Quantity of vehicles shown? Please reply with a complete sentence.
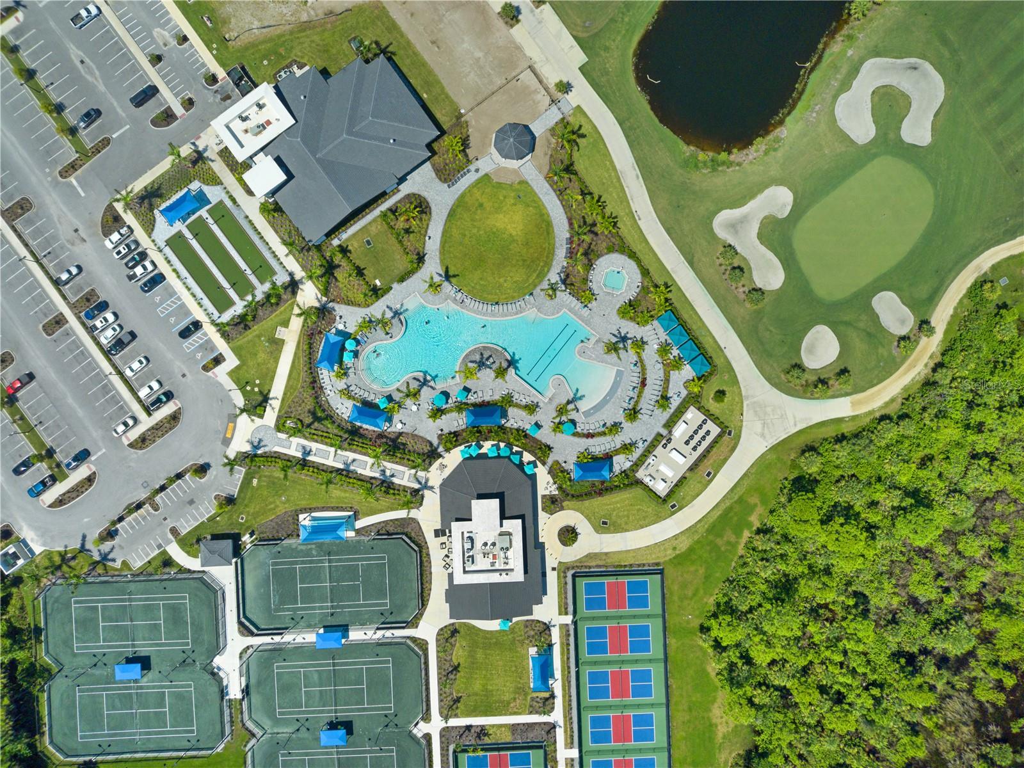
The number of vehicles here is 22.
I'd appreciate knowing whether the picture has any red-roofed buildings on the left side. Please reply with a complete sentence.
No, no red-roofed building appears on the left side.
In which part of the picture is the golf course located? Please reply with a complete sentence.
The golf course sits in the top right section of the image.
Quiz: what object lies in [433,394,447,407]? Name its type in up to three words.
umbrella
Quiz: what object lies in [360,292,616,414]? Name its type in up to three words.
swimming pool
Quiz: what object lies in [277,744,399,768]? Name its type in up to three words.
tennis court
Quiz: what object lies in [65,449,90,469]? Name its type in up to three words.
car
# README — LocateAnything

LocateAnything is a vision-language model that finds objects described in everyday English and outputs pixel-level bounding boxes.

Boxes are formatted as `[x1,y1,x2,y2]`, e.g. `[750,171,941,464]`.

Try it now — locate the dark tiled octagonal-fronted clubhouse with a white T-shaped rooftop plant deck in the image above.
[439,458,542,620]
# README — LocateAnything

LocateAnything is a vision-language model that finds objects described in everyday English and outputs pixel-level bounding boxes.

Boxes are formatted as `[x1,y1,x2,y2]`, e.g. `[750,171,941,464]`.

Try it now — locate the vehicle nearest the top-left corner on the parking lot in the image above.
[71,4,100,29]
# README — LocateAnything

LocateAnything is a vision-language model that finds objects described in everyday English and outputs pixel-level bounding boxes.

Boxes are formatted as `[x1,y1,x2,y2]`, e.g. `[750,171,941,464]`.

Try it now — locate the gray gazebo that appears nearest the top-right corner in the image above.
[493,121,534,164]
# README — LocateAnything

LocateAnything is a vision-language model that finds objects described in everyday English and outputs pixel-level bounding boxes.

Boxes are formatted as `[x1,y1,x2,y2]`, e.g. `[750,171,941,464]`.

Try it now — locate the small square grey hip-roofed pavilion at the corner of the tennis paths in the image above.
[200,539,236,567]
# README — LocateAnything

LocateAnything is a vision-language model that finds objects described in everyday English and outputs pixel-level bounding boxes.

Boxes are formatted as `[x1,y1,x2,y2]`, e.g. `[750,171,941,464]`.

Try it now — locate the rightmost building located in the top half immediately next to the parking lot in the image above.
[210,53,440,245]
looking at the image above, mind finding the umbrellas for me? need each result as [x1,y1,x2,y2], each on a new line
[510,452,521,463]
[499,446,511,458]
[487,446,498,457]
[523,463,536,475]
[456,389,469,401]
[458,447,471,460]
[499,619,510,630]
[433,394,447,407]
[562,422,576,435]
[377,395,390,410]
[526,422,542,438]
[343,352,353,362]
[345,339,356,350]
[468,443,481,458]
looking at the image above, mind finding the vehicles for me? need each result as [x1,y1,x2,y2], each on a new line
[115,239,138,260]
[6,371,35,395]
[141,272,165,293]
[108,330,137,354]
[85,300,109,320]
[125,356,149,376]
[77,108,102,128]
[126,259,156,284]
[105,225,134,249]
[124,249,148,269]
[89,310,118,335]
[178,320,202,340]
[129,84,158,109]
[13,454,35,474]
[65,449,90,469]
[138,379,162,399]
[114,415,137,435]
[28,473,58,497]
[145,389,175,413]
[71,4,100,29]
[100,323,124,343]
[57,265,81,285]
